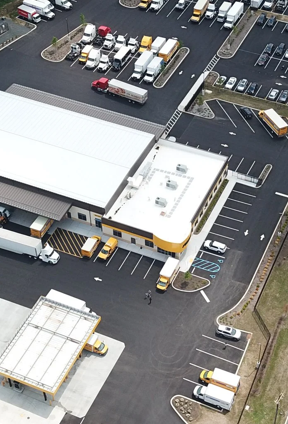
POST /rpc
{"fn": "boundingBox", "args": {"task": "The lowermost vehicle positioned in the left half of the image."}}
[85,333,109,355]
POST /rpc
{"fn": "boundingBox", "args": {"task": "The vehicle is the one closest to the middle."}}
[99,237,119,262]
